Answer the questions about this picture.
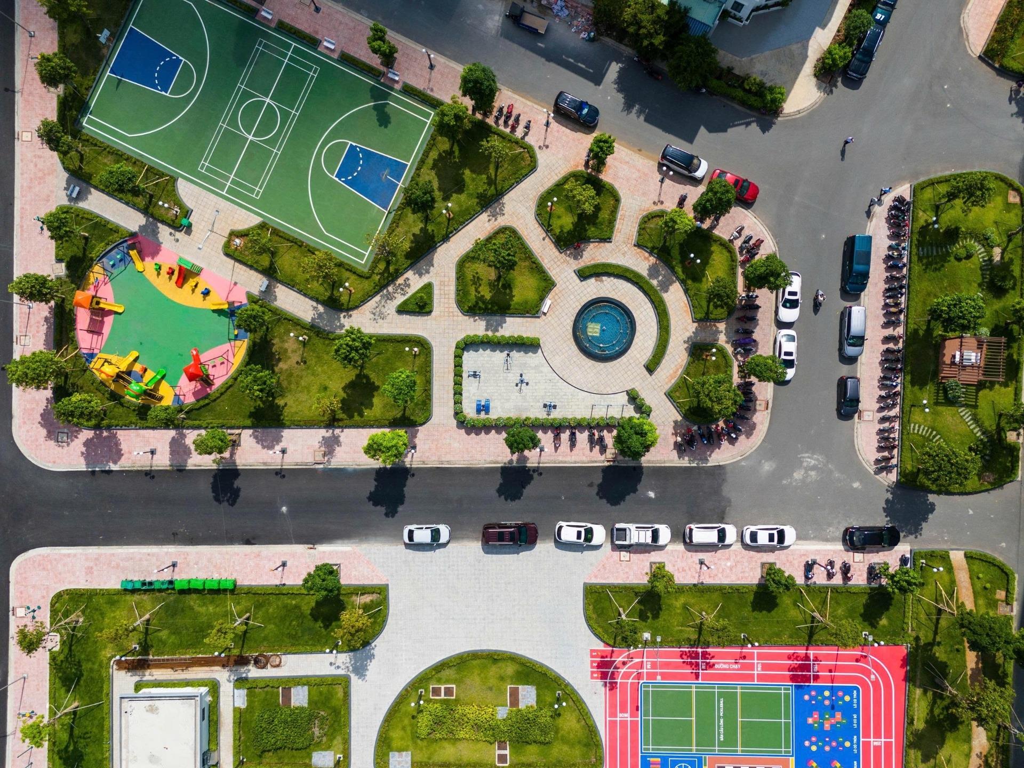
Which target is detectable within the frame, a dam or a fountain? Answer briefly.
fountain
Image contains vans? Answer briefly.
Yes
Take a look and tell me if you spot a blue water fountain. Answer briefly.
Yes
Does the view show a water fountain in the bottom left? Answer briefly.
No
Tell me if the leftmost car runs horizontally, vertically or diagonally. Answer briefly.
horizontally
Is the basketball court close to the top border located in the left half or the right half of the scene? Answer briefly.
left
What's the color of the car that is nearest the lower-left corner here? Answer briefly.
white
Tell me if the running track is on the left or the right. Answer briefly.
right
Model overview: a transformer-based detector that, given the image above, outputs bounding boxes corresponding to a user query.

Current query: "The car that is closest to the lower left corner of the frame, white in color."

[403,523,451,547]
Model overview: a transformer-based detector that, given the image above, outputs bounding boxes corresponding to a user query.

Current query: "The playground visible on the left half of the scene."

[74,235,247,406]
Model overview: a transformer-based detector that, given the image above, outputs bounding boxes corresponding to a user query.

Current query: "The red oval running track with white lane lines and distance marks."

[590,642,909,768]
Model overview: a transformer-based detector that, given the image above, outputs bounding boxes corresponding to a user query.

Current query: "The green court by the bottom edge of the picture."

[641,683,793,757]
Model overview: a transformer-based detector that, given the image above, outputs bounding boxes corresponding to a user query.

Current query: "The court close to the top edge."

[79,0,436,269]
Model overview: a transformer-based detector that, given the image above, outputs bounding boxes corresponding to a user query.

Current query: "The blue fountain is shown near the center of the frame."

[572,297,636,361]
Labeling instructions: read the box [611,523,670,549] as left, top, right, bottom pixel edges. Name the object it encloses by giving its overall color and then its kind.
white truck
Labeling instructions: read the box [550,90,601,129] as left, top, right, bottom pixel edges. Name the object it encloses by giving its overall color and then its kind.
black car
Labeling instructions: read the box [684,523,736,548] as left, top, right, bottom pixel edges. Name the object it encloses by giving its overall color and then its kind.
white car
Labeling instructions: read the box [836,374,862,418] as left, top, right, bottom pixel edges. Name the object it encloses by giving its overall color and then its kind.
black car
